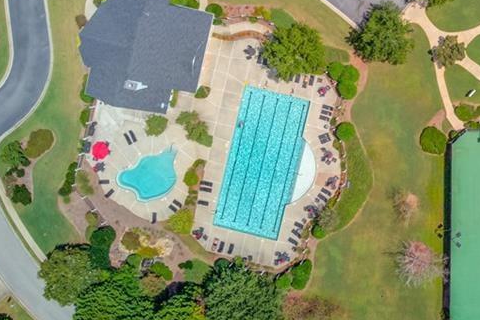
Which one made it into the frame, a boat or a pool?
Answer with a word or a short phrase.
pool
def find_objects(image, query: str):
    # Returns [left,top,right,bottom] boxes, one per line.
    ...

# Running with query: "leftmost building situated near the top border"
[79,0,219,114]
